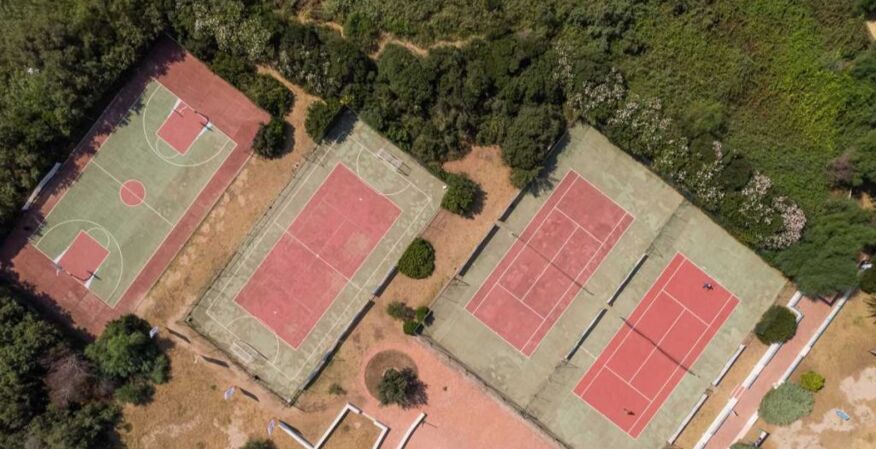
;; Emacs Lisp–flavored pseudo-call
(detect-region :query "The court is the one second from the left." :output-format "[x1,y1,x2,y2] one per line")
[186,112,443,403]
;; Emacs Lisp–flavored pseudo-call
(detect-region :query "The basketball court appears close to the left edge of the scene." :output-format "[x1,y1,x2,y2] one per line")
[0,34,274,347]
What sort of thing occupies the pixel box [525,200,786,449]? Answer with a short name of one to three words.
tennis court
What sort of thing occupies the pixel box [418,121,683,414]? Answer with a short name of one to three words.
tennis court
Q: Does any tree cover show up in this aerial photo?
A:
Yes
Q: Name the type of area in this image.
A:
sports ground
